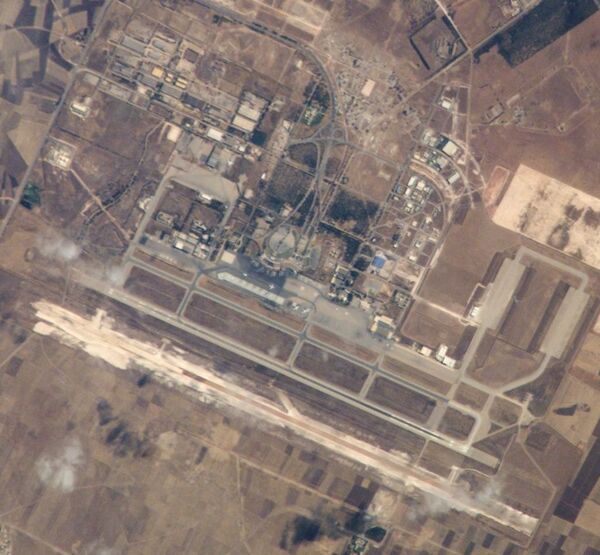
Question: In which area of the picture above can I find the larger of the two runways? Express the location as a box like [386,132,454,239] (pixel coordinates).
[33,301,538,535]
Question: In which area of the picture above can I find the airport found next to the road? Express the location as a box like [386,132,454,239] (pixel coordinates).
[73,166,599,476]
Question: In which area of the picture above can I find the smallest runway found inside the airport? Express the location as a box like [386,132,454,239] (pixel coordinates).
[74,278,497,468]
